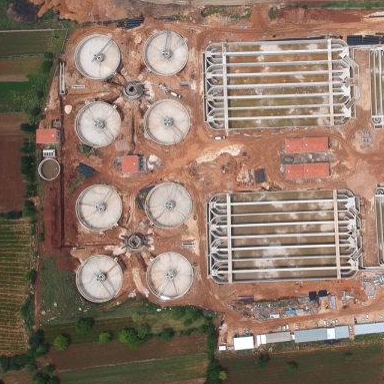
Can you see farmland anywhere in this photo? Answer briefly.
Yes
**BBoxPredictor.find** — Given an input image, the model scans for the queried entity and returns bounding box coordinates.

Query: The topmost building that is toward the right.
[285,137,328,154]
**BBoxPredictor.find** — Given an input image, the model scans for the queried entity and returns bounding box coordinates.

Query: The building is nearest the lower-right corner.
[353,321,384,335]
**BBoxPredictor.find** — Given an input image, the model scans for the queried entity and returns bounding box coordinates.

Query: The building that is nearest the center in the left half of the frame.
[121,156,147,172]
